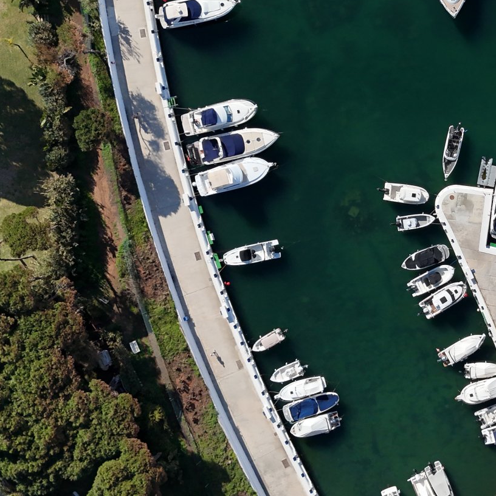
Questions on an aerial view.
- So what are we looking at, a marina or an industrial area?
marina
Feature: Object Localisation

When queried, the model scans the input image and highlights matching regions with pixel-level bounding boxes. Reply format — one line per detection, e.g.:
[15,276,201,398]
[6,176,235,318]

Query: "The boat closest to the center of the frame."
[221,238,282,265]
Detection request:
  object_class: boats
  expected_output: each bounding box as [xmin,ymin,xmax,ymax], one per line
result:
[471,404,496,430]
[181,103,259,135]
[188,127,280,163]
[477,425,496,445]
[423,457,458,496]
[432,333,486,369]
[389,211,438,231]
[283,392,341,424]
[413,284,470,319]
[374,182,431,205]
[409,469,433,496]
[274,372,328,401]
[153,0,241,31]
[383,481,400,496]
[442,116,465,181]
[291,410,342,439]
[403,265,455,299]
[221,238,282,265]
[453,376,496,405]
[460,359,496,381]
[190,158,275,196]
[252,326,287,351]
[270,358,308,383]
[399,243,450,269]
